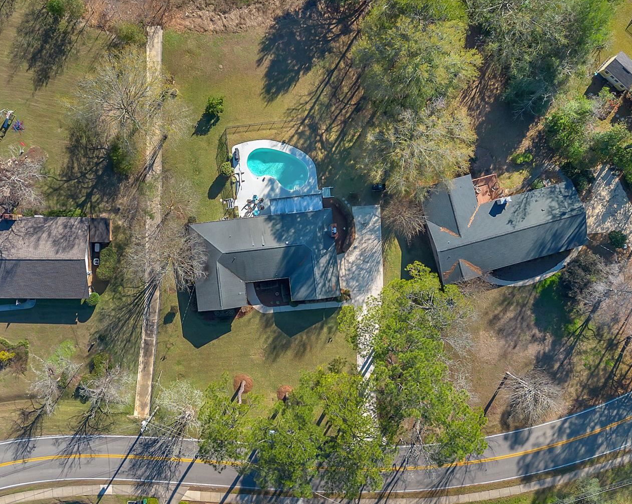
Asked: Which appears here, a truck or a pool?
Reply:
pool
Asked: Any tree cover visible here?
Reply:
Yes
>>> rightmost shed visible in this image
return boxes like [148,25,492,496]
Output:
[599,52,632,93]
